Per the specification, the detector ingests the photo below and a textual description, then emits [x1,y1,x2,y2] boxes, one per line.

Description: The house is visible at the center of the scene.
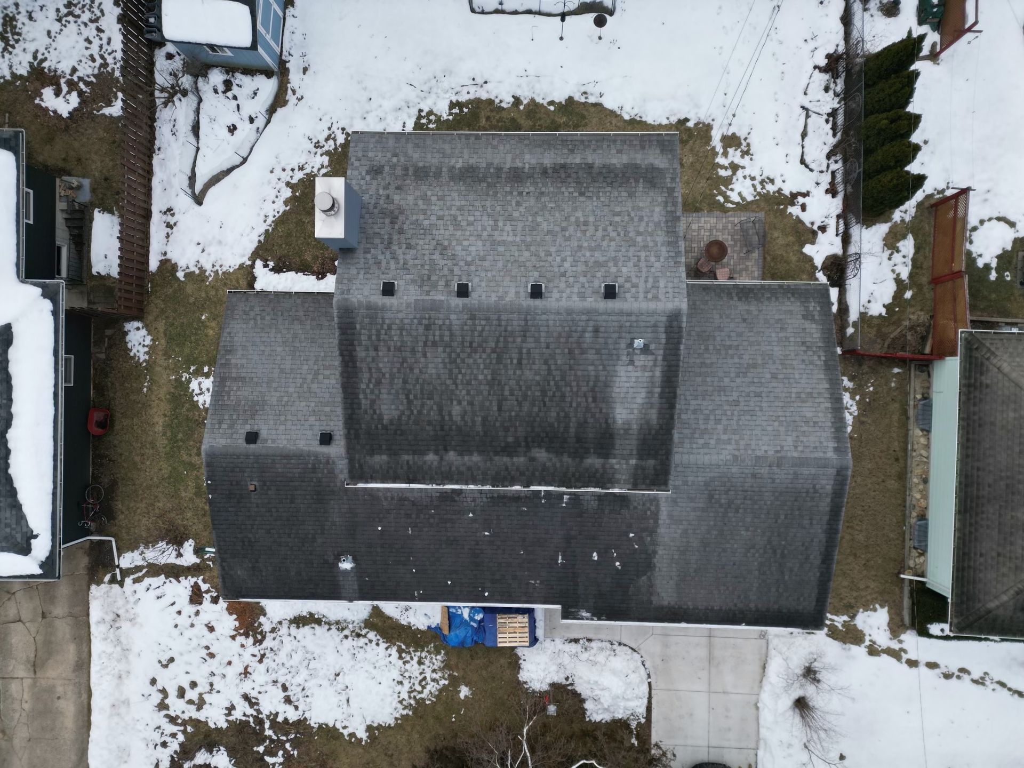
[202,131,852,633]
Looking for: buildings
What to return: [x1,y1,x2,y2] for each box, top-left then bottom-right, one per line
[903,330,1024,639]
[202,131,852,633]
[0,128,121,581]
[154,0,279,71]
